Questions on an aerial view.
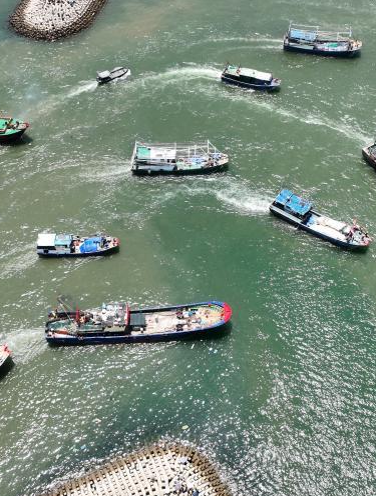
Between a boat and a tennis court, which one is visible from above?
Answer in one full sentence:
Of the two, only a boat appears.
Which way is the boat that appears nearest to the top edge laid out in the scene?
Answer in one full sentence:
In this picture, the boat that appears nearest to the top edge lies horizontally.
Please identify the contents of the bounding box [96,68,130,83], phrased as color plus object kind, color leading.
white boat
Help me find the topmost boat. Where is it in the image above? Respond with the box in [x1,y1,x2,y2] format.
[283,25,361,55]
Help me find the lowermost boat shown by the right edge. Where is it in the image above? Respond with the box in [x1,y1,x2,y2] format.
[269,192,371,246]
